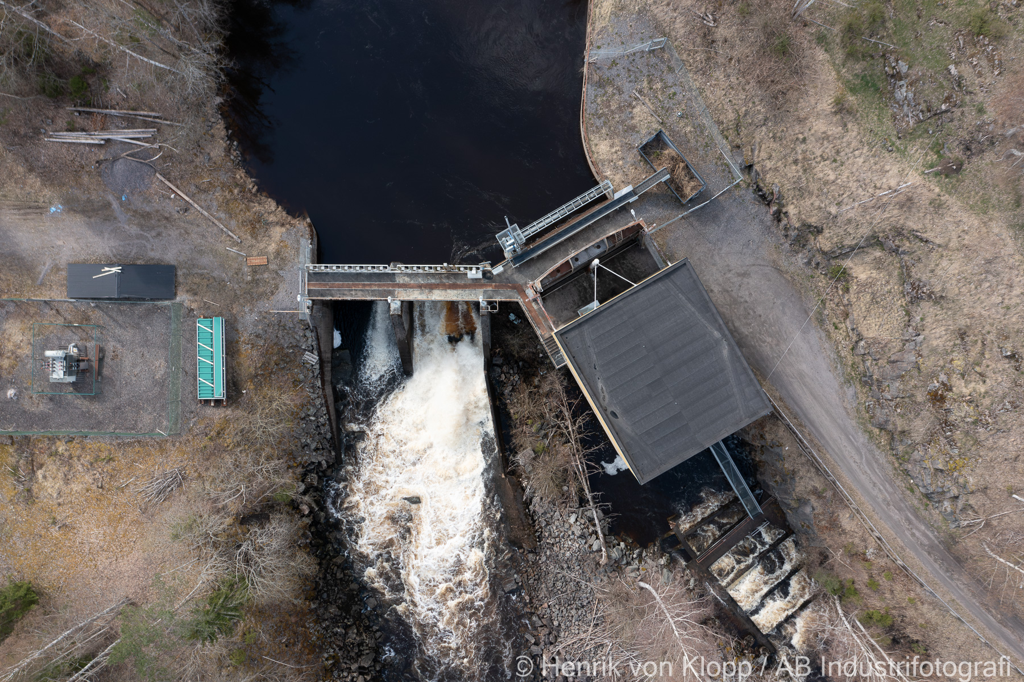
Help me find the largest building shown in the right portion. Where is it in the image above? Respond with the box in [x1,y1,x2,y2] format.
[552,258,773,484]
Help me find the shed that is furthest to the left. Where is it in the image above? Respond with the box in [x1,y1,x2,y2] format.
[68,263,176,299]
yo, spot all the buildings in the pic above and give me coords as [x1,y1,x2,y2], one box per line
[68,263,176,299]
[552,258,773,484]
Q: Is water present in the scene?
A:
Yes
